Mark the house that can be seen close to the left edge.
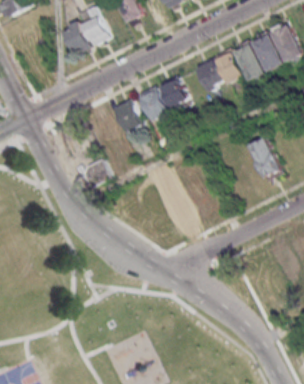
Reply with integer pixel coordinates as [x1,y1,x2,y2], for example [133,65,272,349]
[0,0,38,20]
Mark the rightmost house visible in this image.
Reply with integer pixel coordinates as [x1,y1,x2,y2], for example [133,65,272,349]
[268,22,302,62]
